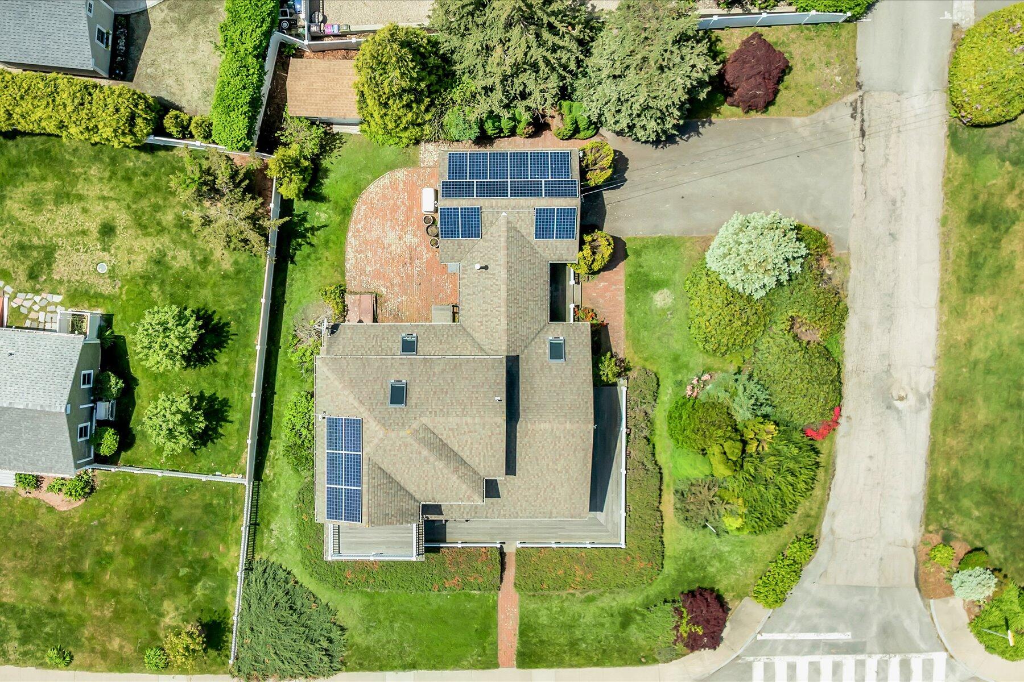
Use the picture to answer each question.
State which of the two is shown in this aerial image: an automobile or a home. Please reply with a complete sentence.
I can see a home in this picture.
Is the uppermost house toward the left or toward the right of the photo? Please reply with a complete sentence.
The uppermost house is on the left side of the image.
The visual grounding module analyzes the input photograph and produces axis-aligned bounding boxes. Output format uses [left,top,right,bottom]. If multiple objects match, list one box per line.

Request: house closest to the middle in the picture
[314,147,627,561]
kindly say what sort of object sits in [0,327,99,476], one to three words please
house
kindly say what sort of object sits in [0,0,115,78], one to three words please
house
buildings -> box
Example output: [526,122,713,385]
[0,327,99,476]
[314,147,627,561]
[0,0,115,78]
[287,58,363,134]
